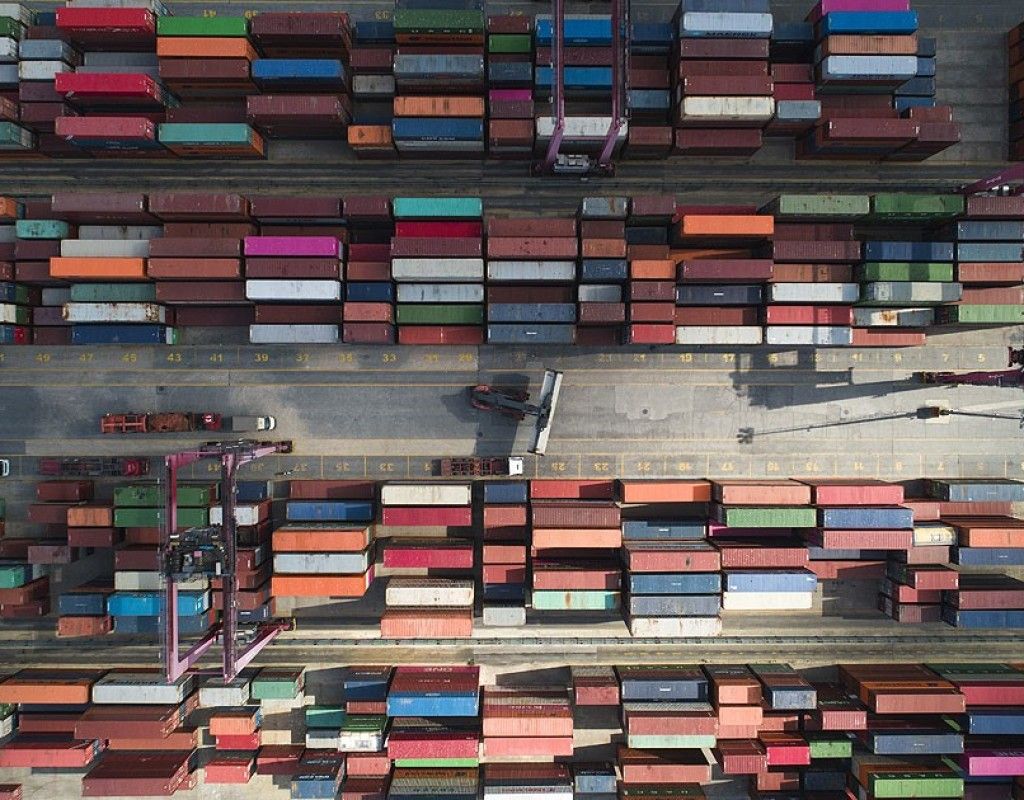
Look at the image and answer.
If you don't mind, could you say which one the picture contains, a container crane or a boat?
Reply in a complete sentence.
Looking from above, you can make out a container crane.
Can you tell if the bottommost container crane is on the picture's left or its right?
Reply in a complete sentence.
You can find the bottommost container crane on the left side of the picture.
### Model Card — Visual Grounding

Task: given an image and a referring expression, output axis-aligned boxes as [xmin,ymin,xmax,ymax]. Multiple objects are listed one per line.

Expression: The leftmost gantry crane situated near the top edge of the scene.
[530,0,629,176]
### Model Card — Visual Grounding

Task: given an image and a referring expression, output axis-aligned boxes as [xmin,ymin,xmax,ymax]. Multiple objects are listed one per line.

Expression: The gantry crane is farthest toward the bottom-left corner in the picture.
[162,439,295,683]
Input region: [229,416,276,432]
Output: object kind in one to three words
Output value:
vehicle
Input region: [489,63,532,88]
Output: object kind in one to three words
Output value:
shipping container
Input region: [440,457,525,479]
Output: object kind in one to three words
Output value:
truck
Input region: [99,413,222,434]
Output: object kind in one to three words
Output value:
truck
